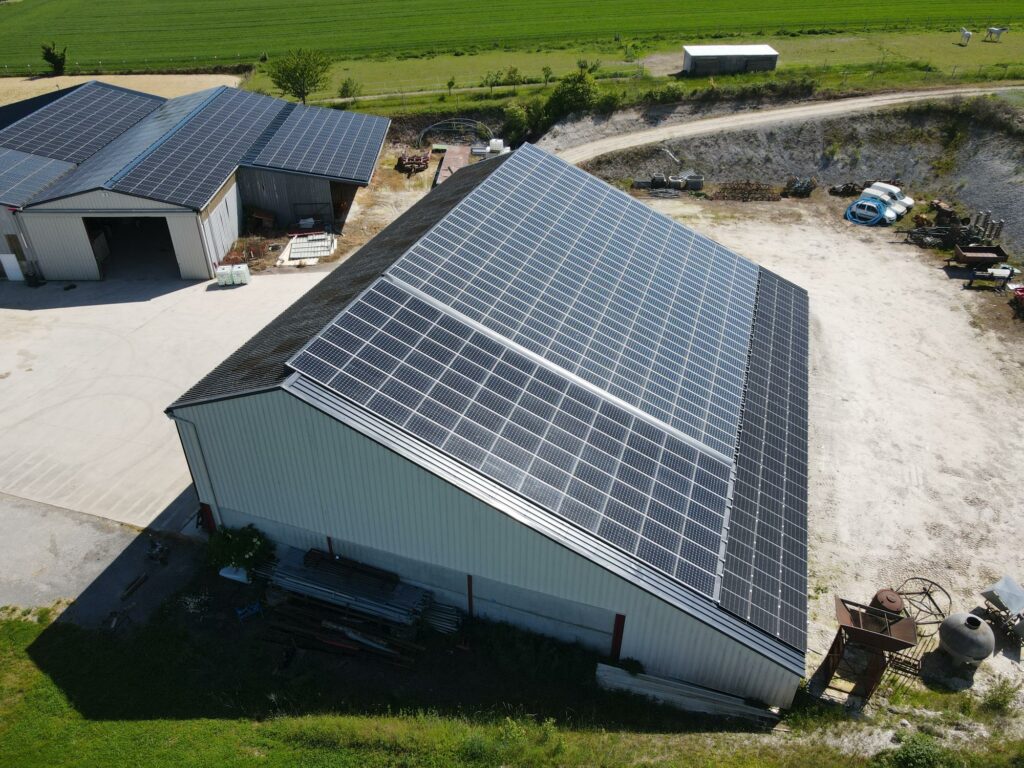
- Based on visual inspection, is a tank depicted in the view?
Yes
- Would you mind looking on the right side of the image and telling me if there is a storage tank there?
Yes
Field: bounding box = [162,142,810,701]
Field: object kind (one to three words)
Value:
barn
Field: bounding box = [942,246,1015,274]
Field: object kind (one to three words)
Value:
trailer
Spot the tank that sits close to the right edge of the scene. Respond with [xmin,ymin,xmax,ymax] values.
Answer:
[936,614,1000,671]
